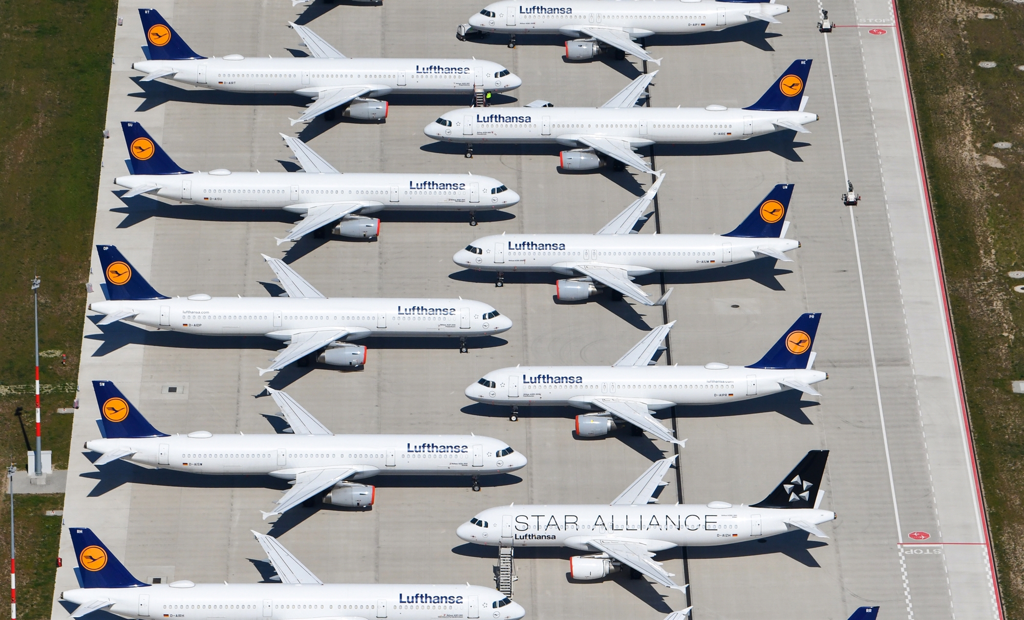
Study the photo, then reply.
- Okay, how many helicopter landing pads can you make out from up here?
none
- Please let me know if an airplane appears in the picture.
Yes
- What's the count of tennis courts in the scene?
0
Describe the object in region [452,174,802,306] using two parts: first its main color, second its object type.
white airplane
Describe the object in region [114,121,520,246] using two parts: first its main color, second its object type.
white airplane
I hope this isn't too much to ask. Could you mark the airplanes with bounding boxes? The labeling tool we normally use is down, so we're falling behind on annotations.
[88,244,512,377]
[62,527,524,620]
[423,58,820,178]
[452,174,802,306]
[456,449,837,593]
[84,380,526,520]
[464,313,829,449]
[131,8,522,126]
[114,121,520,246]
[468,0,790,66]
